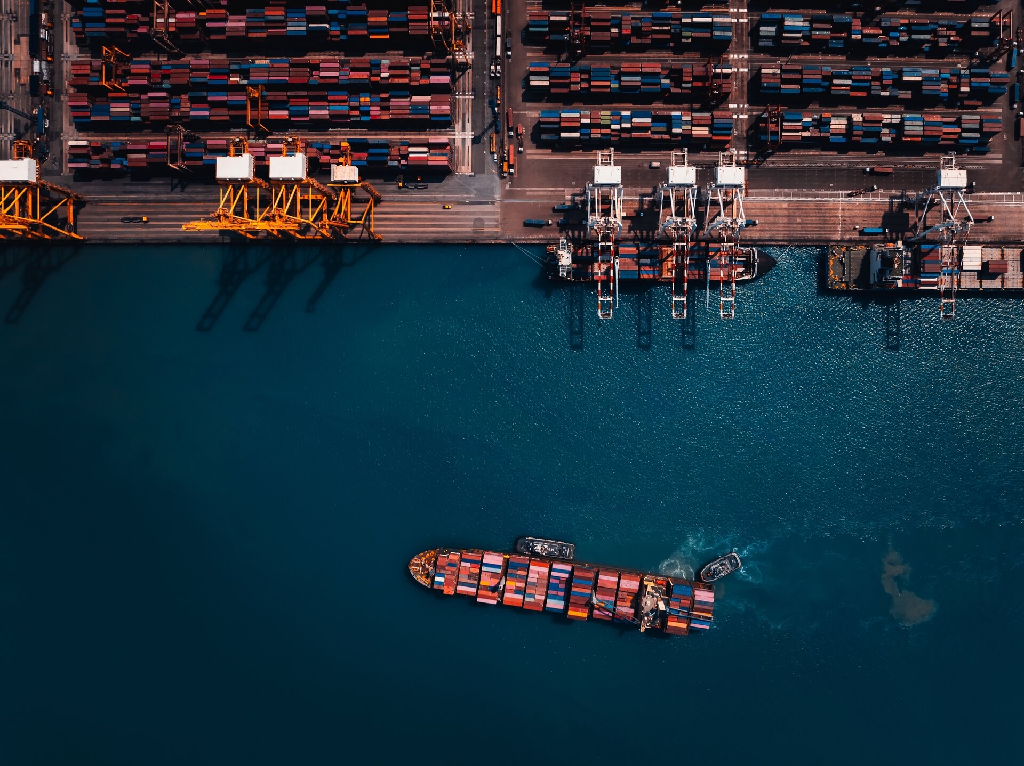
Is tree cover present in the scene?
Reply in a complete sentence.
No, no tree cover is visible.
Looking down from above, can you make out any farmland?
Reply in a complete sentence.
No, there's no farmland in this view.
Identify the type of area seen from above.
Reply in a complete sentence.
The picture captures a port.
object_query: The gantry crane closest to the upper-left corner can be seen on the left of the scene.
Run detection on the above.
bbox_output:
[101,46,138,95]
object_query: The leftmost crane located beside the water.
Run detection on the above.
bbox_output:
[0,144,88,242]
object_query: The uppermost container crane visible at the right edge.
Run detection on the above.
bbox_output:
[975,9,1014,61]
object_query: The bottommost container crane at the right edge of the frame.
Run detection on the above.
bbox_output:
[894,145,977,320]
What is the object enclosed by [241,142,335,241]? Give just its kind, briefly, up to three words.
container crane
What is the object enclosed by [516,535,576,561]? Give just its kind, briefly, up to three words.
boat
